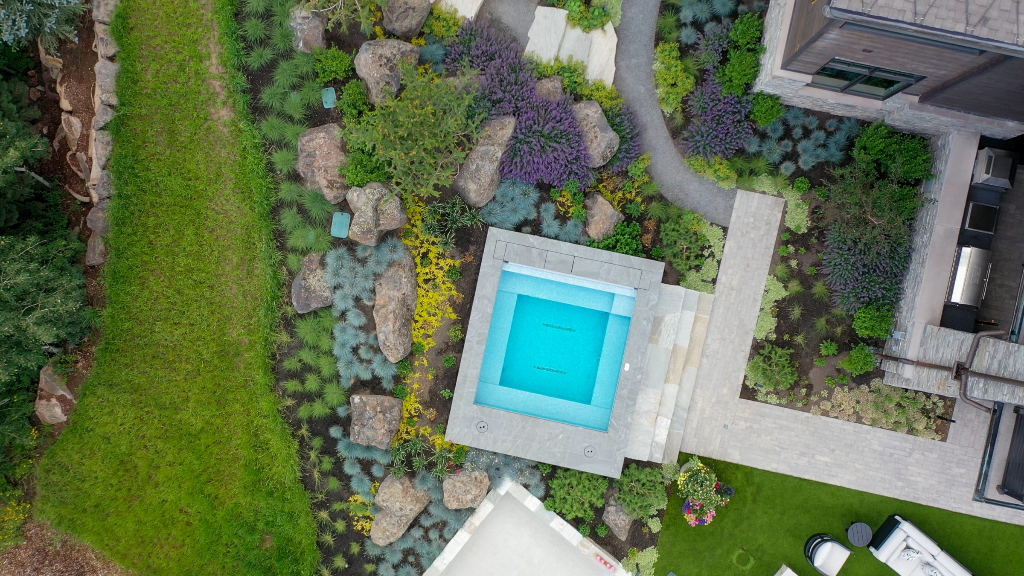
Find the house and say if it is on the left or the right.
right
